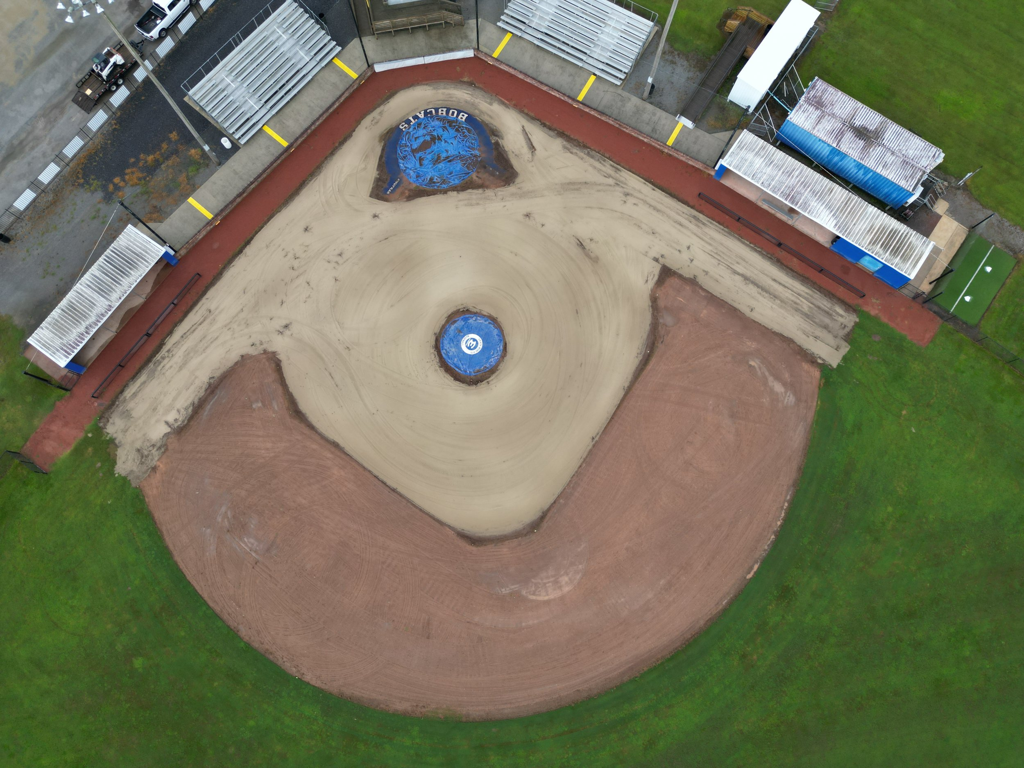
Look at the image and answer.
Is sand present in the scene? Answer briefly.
Yes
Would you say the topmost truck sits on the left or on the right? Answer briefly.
left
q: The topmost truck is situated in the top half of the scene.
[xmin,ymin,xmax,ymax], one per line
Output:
[133,0,198,43]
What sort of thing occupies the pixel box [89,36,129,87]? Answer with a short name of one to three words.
work vehicle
